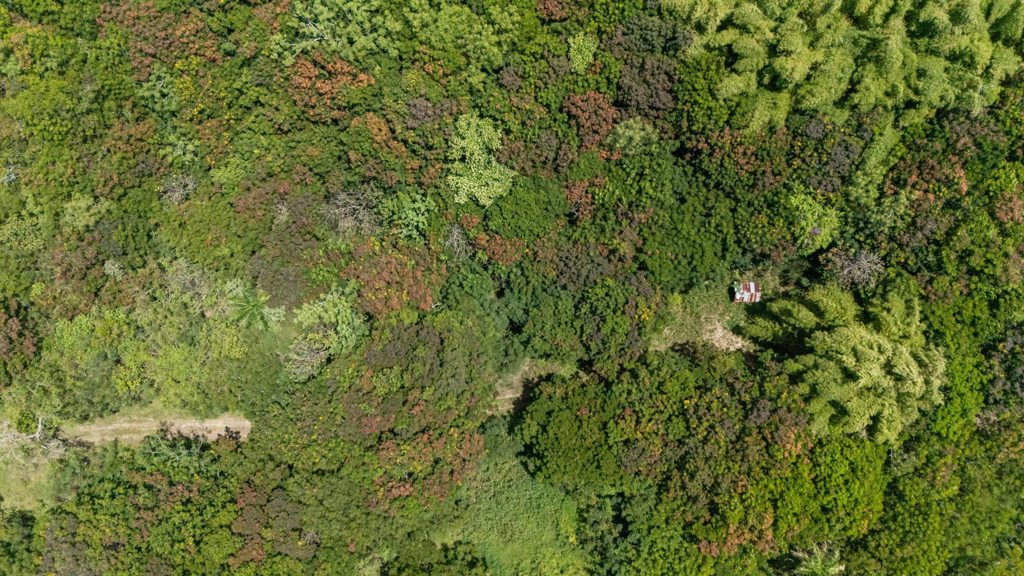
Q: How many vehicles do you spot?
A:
0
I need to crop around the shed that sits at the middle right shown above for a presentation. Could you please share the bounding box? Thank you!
[730,282,761,302]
